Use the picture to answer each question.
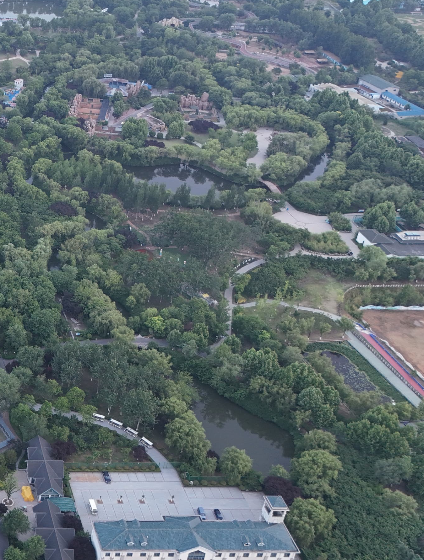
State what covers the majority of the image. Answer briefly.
trees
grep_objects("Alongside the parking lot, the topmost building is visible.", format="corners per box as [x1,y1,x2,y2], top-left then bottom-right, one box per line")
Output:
[7,422,64,498]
